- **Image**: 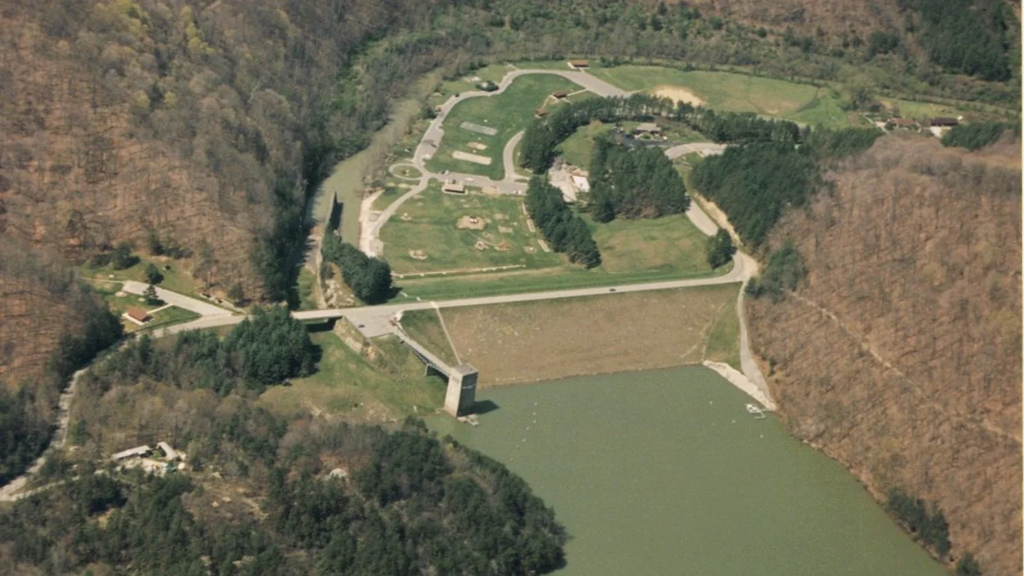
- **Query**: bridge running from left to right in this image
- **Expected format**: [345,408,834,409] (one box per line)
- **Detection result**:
[289,307,347,327]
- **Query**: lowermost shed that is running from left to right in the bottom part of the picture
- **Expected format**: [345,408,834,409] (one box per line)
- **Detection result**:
[108,444,153,462]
